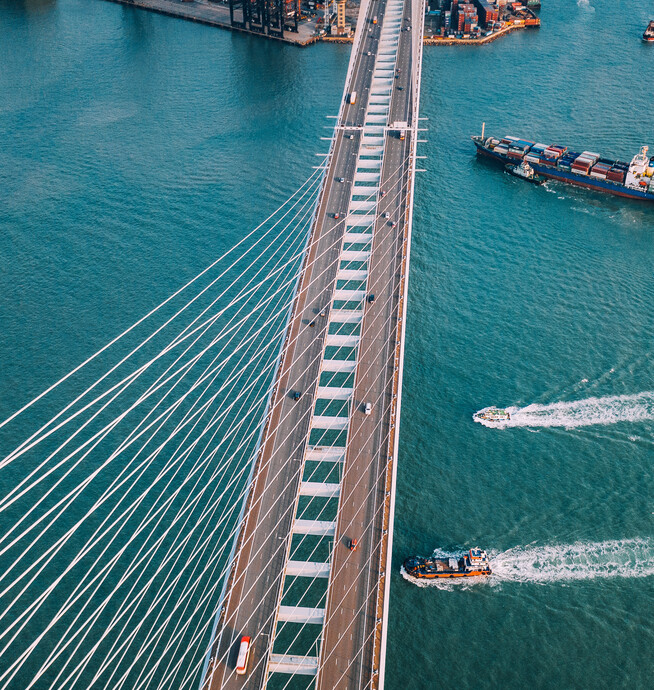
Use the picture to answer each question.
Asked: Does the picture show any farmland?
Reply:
No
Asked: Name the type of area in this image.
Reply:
port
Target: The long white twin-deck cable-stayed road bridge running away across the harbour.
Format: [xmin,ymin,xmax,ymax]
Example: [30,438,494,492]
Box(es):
[0,0,430,690]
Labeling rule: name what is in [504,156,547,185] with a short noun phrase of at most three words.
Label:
boat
